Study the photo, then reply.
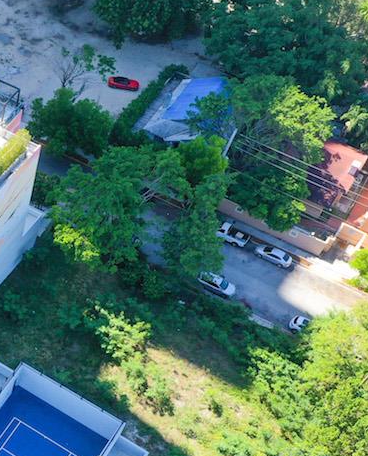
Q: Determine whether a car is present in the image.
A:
Yes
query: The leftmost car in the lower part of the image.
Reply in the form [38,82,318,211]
[199,263,241,293]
